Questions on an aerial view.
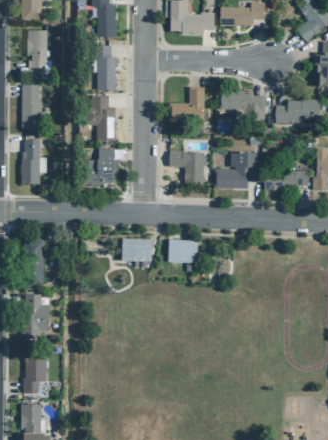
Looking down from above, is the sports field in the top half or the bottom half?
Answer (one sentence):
The sports field is in the bottom half of the image.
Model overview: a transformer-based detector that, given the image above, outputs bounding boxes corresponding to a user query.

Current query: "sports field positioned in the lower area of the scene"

[82,239,328,440]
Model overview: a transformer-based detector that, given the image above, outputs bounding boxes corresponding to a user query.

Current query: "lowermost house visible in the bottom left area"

[21,404,50,440]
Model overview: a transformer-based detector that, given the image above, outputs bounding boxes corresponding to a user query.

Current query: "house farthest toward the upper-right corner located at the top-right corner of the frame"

[298,0,328,44]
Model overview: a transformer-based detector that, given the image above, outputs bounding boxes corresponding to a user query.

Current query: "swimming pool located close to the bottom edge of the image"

[44,405,58,424]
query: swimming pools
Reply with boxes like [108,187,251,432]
[44,405,58,424]
[188,144,207,152]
